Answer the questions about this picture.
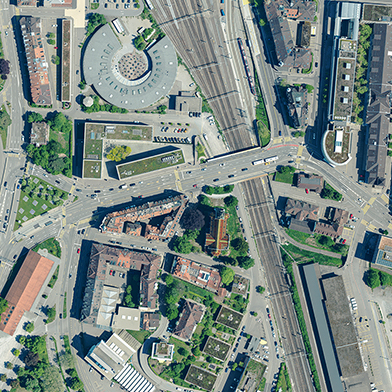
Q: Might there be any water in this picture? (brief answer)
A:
No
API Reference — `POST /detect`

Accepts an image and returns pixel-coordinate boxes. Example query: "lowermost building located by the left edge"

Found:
[0,251,53,337]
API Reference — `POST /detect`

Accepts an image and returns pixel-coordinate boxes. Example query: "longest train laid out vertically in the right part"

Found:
[238,36,255,94]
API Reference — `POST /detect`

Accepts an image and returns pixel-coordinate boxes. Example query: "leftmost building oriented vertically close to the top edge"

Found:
[21,15,52,105]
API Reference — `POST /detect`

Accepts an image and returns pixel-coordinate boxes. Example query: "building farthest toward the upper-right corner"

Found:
[362,4,392,23]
